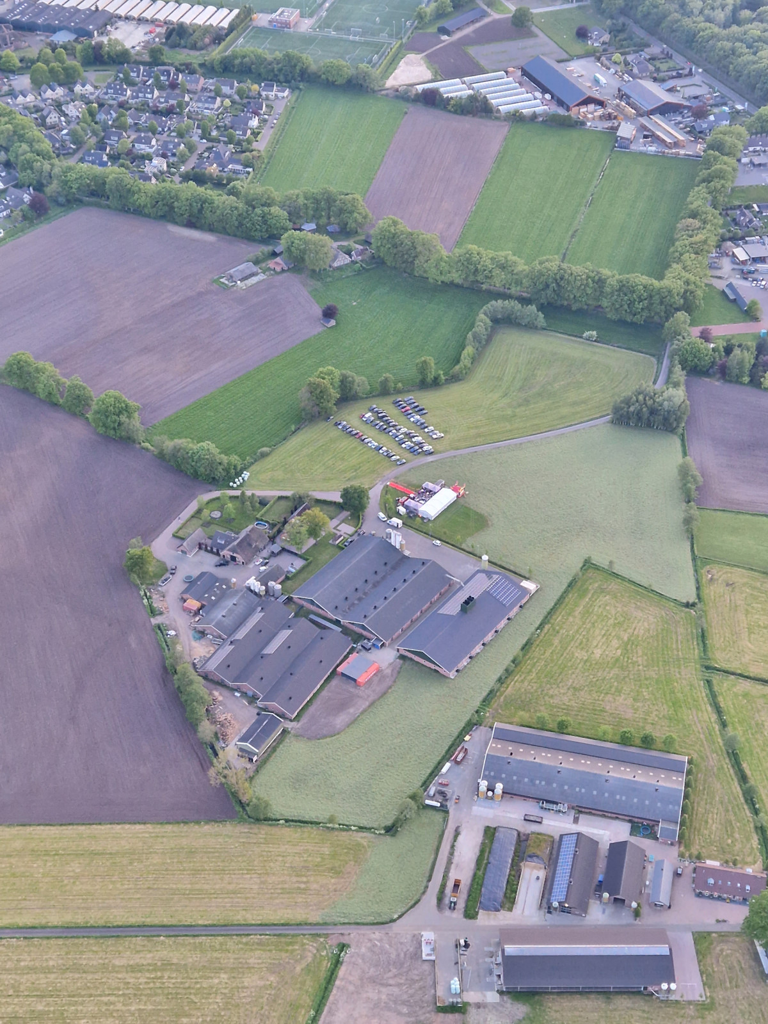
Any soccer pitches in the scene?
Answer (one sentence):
Yes, the picture does show a soccer pitch.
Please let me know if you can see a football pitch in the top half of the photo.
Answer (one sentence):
Yes, a football pitch is visible in the top half of the photo.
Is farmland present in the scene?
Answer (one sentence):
Yes, farmland shows up in the scene.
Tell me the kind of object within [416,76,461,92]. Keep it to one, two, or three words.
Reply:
greenhouse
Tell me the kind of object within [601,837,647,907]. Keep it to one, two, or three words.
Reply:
barn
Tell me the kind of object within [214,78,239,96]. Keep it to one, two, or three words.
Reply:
house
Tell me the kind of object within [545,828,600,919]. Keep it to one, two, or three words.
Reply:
shed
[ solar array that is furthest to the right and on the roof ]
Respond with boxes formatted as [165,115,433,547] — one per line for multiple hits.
[551,832,578,902]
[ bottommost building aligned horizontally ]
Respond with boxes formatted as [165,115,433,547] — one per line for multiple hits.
[498,928,676,993]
